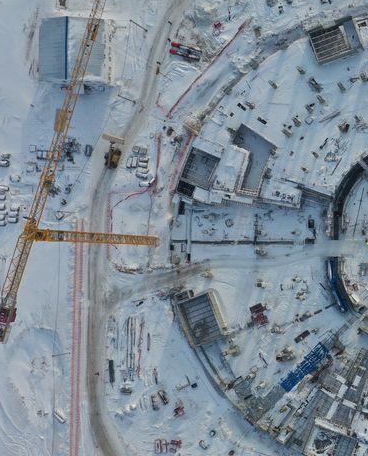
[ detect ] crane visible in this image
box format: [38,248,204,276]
[0,0,167,350]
